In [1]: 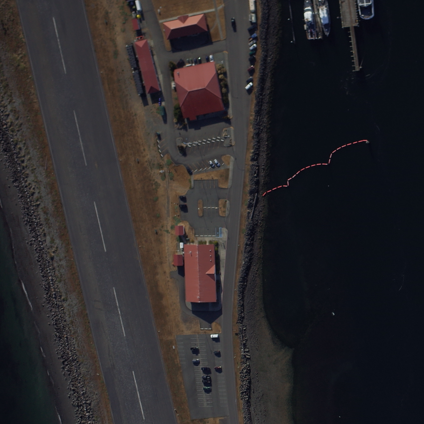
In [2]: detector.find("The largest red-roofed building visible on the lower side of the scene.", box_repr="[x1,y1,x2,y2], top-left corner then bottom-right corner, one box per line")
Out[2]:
[184,244,218,302]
